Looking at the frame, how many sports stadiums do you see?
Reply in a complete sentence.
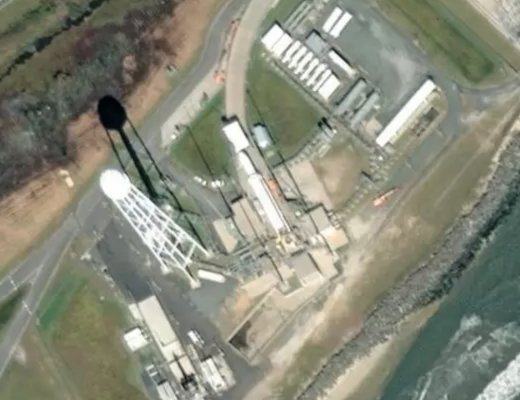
Not a single sports stadium can be seen.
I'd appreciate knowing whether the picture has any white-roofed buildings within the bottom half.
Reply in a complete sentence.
Yes, the scene does show a white-roofed building within the bottom half.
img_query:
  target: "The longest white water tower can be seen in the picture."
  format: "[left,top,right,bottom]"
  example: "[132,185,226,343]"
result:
[98,167,214,288]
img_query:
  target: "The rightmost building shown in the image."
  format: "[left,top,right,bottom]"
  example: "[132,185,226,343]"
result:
[376,80,440,150]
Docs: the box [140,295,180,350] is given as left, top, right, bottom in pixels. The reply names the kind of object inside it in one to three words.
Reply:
building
